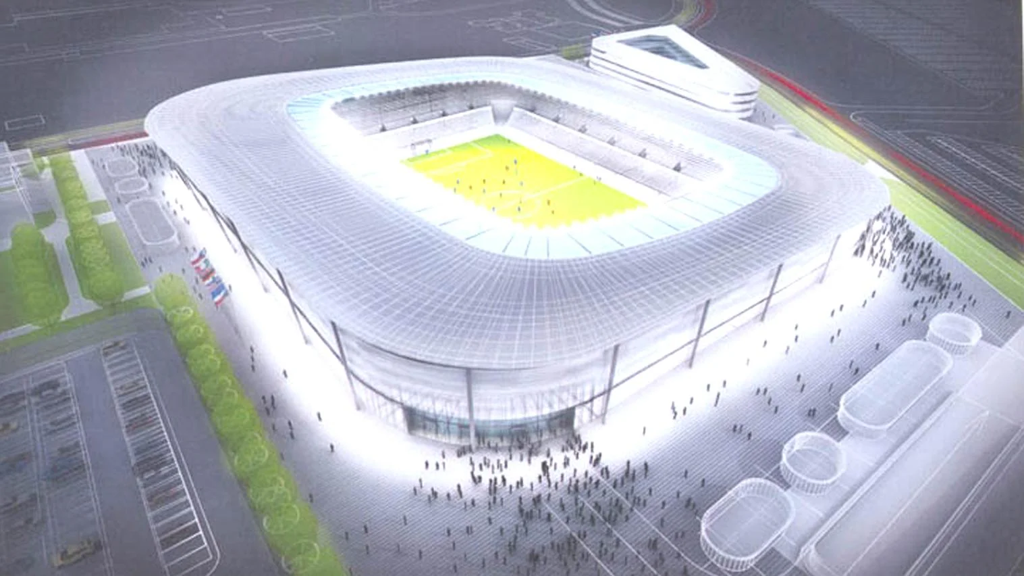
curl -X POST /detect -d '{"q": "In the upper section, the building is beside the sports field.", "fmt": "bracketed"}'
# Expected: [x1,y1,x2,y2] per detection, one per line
[577,26,769,118]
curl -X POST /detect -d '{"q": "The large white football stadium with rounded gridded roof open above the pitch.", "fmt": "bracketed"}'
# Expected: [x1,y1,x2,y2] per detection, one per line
[155,57,891,450]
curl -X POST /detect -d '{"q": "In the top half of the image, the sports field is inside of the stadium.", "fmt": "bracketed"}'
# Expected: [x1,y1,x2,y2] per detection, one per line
[382,135,655,228]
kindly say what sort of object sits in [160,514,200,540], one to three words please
car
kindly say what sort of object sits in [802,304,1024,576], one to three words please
building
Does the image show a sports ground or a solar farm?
sports ground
